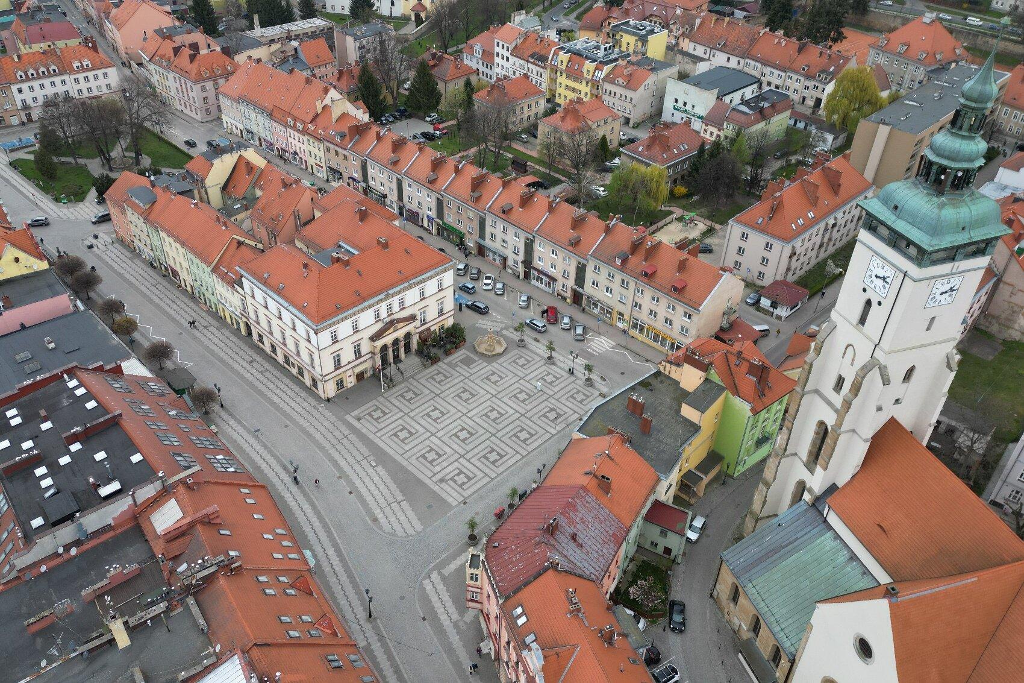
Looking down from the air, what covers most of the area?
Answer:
buildings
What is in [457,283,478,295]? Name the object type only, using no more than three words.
vehicle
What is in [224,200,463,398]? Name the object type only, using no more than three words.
building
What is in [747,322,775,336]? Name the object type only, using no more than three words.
vehicle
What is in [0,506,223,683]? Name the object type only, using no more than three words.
building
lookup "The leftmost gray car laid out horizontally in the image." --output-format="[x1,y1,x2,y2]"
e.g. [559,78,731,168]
[26,215,51,227]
